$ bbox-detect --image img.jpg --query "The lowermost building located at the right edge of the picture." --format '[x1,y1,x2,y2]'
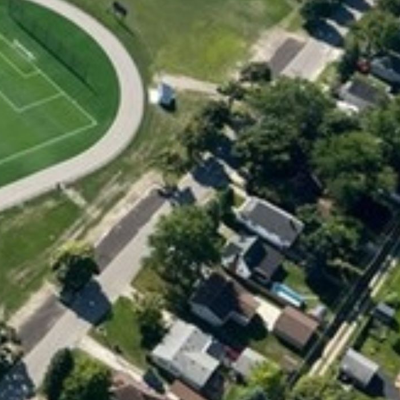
[336,349,381,389]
